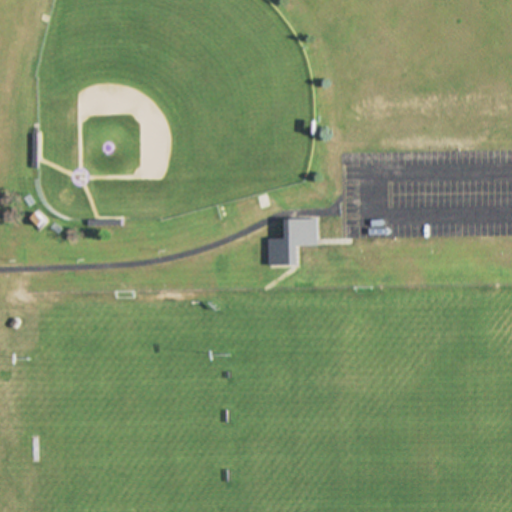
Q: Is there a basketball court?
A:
No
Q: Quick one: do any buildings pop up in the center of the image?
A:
Yes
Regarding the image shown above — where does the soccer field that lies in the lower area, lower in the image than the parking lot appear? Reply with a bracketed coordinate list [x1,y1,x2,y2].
[0,286,512,512]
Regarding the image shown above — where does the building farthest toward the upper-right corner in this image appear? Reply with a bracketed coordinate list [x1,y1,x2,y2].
[268,219,320,265]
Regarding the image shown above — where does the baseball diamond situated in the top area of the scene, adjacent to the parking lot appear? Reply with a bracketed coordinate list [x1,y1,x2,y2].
[38,0,316,222]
